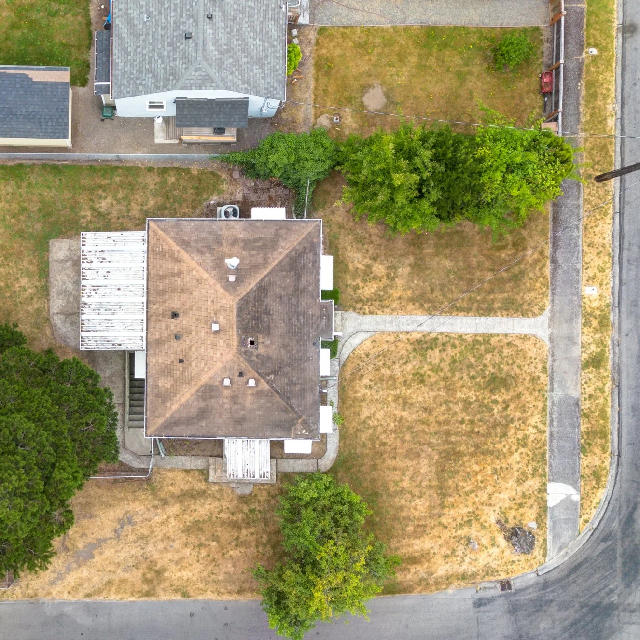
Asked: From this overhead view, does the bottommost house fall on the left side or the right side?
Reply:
left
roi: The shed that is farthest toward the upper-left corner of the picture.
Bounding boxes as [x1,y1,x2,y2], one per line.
[0,65,72,149]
